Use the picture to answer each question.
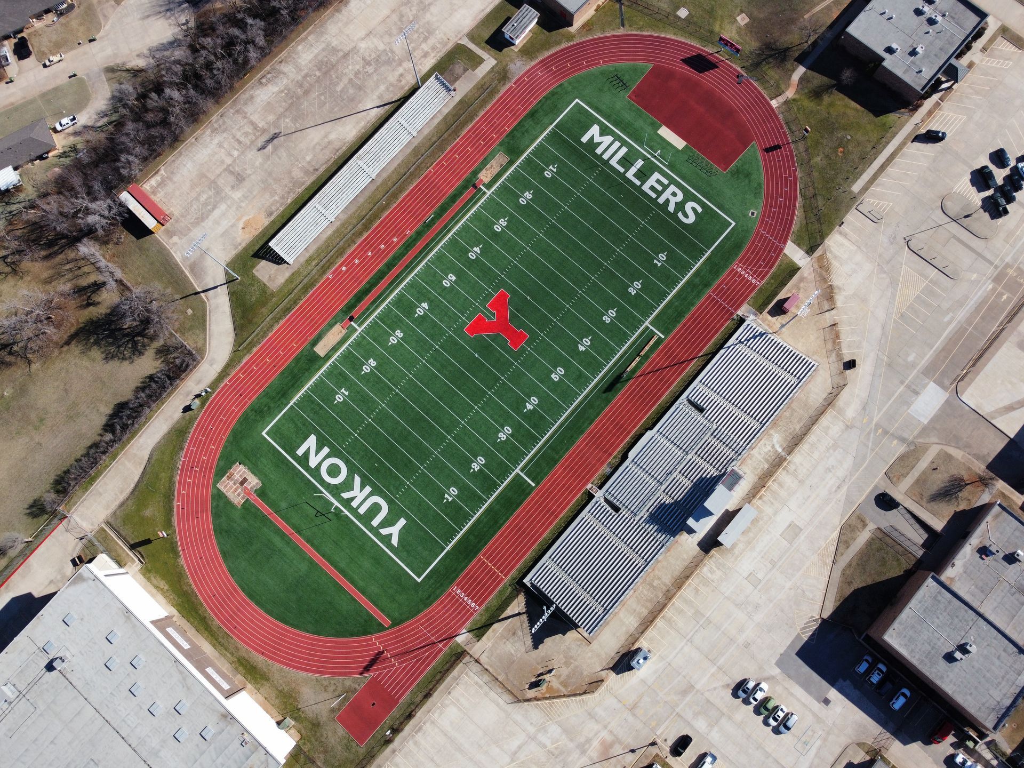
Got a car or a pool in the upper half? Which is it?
car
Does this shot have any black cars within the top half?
Yes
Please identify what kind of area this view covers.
sports ground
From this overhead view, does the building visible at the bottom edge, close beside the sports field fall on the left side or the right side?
left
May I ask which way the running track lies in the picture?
on a diagonal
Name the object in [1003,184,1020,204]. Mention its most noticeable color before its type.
black car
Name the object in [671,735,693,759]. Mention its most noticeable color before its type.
black car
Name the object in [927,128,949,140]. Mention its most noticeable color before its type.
black vehicle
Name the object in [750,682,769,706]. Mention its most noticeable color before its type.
white car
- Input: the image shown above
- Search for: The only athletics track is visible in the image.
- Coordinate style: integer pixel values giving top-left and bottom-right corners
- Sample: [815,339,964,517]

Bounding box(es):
[175,33,799,747]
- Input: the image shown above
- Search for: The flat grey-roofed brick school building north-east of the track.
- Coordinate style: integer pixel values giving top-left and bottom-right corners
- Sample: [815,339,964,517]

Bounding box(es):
[836,0,988,105]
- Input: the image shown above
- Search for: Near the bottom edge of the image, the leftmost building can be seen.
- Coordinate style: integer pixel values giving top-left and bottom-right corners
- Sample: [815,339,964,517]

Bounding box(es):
[0,564,297,768]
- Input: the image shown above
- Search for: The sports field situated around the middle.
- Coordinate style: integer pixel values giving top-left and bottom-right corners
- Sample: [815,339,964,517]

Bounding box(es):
[211,63,764,637]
